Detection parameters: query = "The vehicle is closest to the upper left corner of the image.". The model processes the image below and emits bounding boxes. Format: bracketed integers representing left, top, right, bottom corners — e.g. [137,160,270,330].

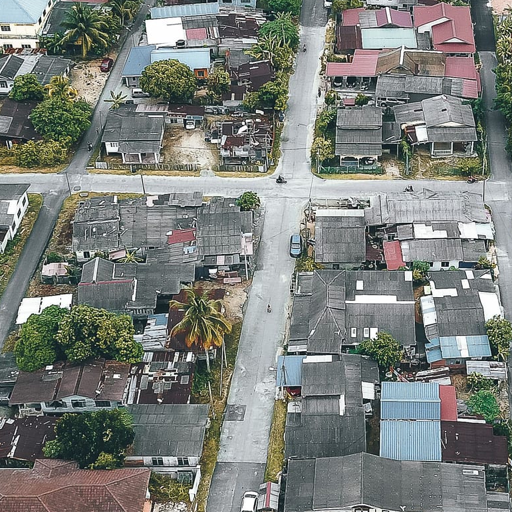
[98,58,116,72]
